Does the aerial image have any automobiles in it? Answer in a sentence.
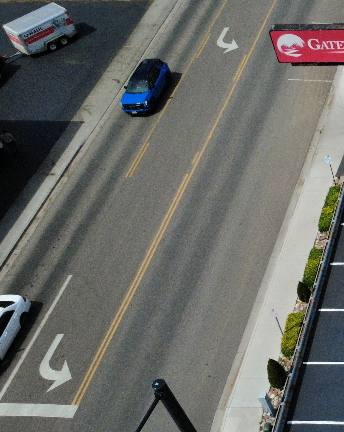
Yes, the photo shows an automobile.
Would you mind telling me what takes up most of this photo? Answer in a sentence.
The bulk of the photo consists of paved ground.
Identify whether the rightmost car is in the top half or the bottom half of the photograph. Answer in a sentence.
It is in the top half that the rightmost car appears.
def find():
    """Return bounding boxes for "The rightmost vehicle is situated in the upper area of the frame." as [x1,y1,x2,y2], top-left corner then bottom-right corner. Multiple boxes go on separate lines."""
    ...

[117,61,169,113]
